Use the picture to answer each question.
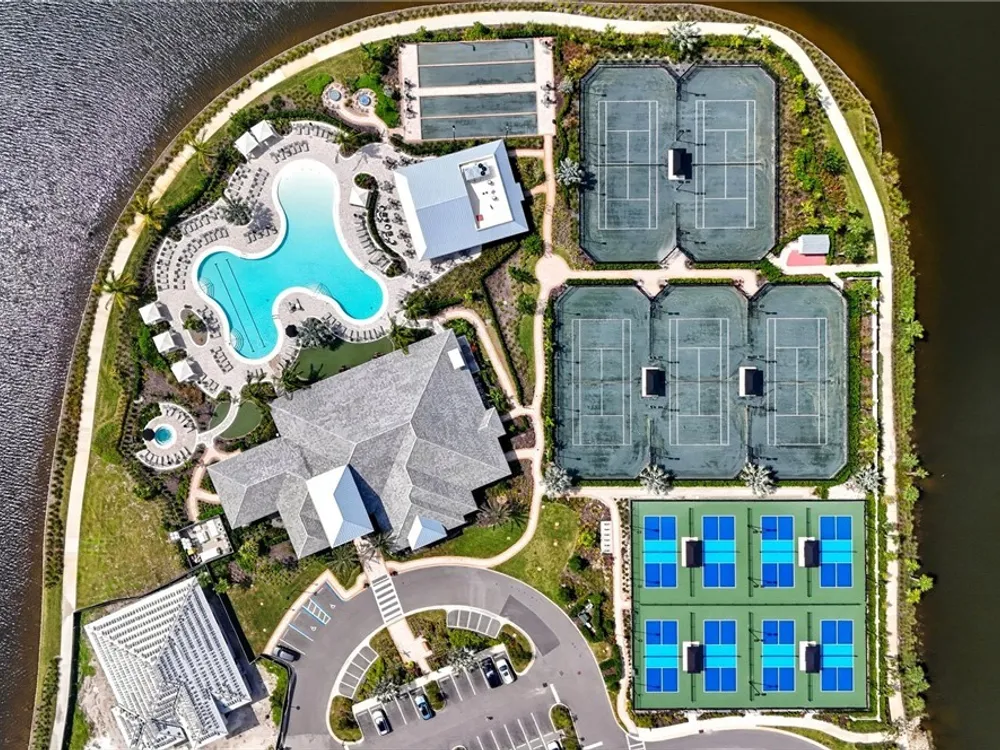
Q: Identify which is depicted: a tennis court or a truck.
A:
tennis court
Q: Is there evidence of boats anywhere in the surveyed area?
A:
No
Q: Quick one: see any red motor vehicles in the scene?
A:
No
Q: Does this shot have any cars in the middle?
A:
No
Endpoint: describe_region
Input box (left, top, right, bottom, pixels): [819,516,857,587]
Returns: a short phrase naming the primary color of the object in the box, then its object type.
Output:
blue sports court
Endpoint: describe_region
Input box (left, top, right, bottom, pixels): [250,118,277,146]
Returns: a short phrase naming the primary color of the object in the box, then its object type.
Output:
white tent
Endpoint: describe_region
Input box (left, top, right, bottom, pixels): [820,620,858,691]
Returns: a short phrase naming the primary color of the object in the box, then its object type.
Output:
blue sports court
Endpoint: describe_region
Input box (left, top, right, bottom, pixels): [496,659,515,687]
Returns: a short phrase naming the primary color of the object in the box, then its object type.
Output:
white car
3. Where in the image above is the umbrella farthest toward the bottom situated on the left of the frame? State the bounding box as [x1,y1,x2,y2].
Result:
[143,428,156,440]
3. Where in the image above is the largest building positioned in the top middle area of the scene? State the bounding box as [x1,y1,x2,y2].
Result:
[394,140,528,260]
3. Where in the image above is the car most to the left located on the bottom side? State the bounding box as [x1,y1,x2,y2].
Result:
[273,646,299,664]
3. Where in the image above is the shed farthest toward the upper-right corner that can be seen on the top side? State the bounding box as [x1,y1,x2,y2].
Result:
[798,235,830,254]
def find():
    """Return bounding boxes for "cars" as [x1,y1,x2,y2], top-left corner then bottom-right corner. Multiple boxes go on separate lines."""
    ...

[273,646,299,664]
[480,659,501,688]
[373,710,391,737]
[496,659,515,687]
[414,696,433,722]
